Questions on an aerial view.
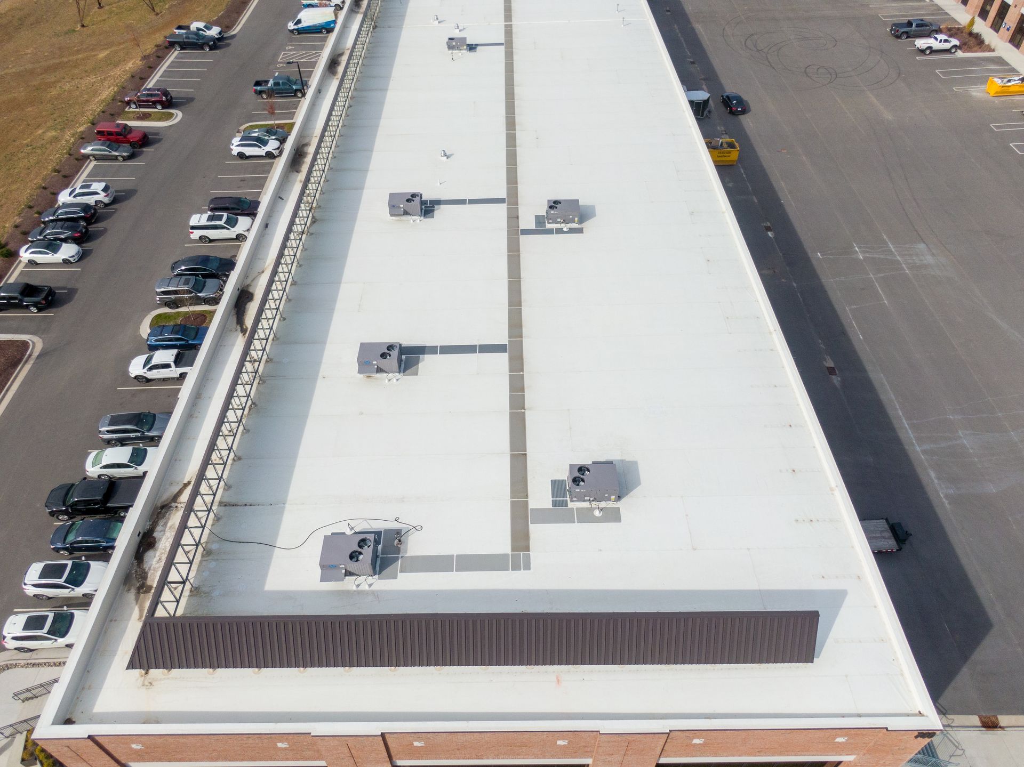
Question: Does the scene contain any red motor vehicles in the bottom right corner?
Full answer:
No, looking in the bottom right corner, there is no red motor vehicle.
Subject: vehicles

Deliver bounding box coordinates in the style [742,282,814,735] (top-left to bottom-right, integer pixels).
[151,275,225,310]
[123,84,174,110]
[80,444,158,480]
[87,121,149,149]
[201,190,261,219]
[720,92,749,115]
[143,322,209,351]
[125,351,199,384]
[14,239,82,266]
[54,179,118,208]
[301,0,347,10]
[241,121,293,140]
[286,7,333,35]
[78,140,133,161]
[42,479,144,522]
[15,559,108,602]
[47,519,124,557]
[0,282,54,313]
[92,410,171,448]
[914,32,965,55]
[171,21,224,40]
[165,30,218,51]
[36,197,101,222]
[229,135,281,159]
[250,73,309,99]
[188,212,253,244]
[0,609,88,654]
[888,16,943,39]
[25,217,90,243]
[165,255,236,282]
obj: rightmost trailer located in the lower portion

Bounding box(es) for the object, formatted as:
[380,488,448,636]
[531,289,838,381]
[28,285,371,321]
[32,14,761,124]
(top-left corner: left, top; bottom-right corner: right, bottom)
[858,518,919,552]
